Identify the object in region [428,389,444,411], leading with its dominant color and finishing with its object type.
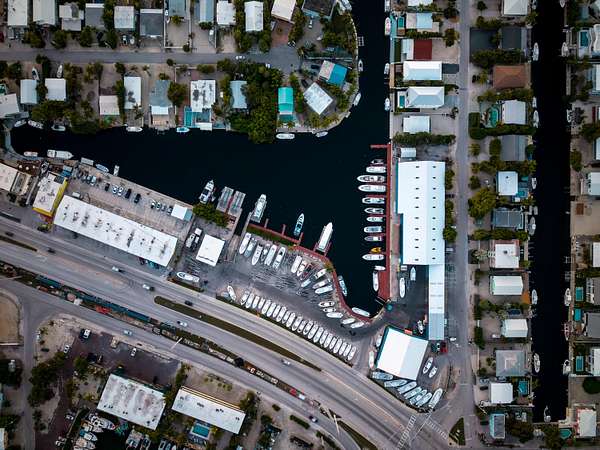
white boat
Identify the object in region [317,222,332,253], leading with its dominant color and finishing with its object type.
white boat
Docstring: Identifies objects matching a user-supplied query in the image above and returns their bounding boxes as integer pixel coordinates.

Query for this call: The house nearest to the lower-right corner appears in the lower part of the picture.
[575,407,596,437]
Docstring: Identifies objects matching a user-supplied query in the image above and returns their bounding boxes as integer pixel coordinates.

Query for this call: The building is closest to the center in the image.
[196,234,224,266]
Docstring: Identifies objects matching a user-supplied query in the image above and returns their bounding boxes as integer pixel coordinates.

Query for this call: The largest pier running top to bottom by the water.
[378,143,391,303]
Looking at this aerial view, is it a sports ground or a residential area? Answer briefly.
residential area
